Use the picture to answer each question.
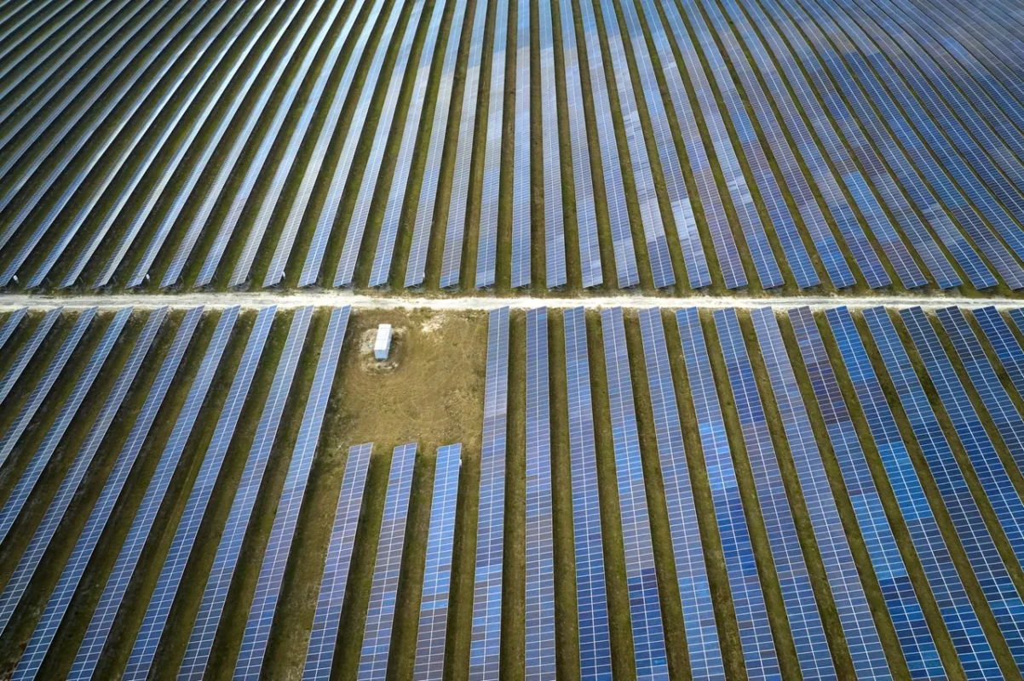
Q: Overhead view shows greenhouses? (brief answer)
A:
No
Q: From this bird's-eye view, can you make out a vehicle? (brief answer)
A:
No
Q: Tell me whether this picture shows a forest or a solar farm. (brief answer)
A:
solar farm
